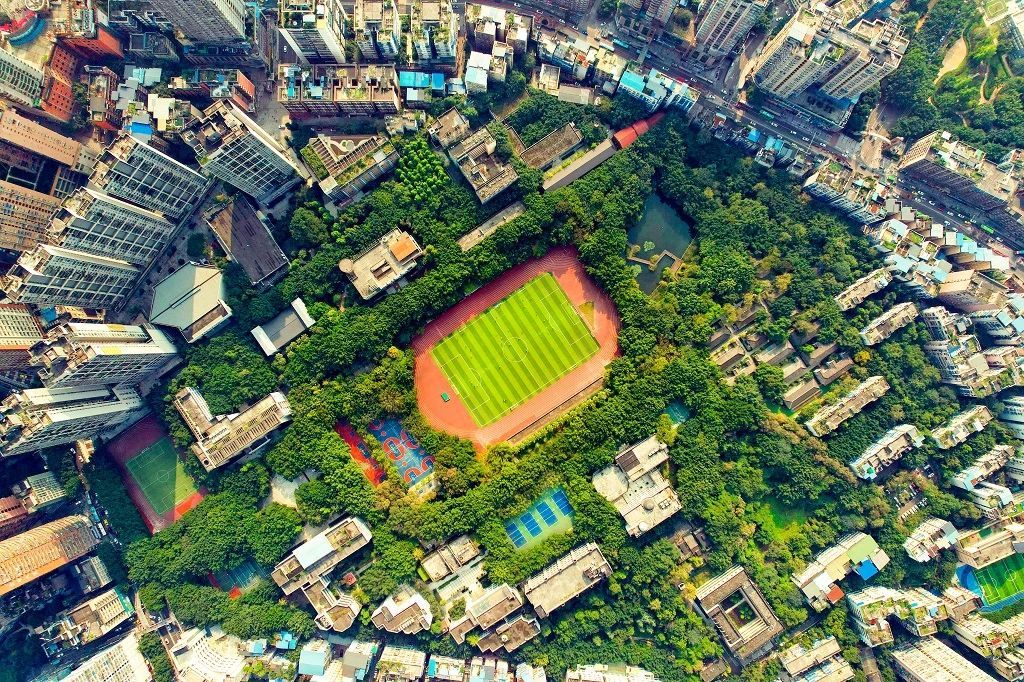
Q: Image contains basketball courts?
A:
Yes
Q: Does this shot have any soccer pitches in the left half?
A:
Yes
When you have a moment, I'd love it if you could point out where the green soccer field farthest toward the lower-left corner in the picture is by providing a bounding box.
[125,439,194,515]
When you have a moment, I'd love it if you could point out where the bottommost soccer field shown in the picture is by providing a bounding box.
[973,547,1024,606]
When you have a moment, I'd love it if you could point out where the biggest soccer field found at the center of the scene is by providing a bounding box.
[432,273,600,427]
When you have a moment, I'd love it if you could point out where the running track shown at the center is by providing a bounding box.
[411,246,623,455]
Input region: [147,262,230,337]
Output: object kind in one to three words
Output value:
building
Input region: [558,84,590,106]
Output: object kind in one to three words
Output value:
shed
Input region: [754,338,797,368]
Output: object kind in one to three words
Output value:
house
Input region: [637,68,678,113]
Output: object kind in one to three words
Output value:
house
